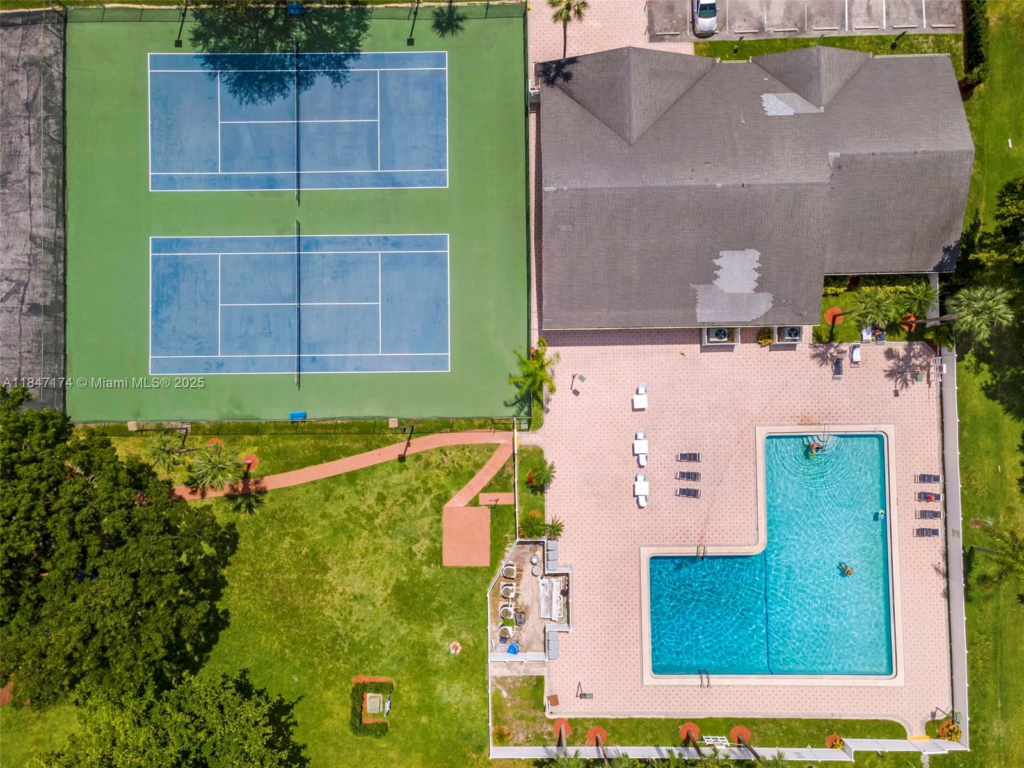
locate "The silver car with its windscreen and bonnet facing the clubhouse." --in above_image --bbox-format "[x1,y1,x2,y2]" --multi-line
[693,0,722,38]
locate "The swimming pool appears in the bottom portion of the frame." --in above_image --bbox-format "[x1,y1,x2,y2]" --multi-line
[640,425,904,686]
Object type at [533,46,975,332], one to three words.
building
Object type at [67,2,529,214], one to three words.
tennis court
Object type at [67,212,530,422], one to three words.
tennis court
